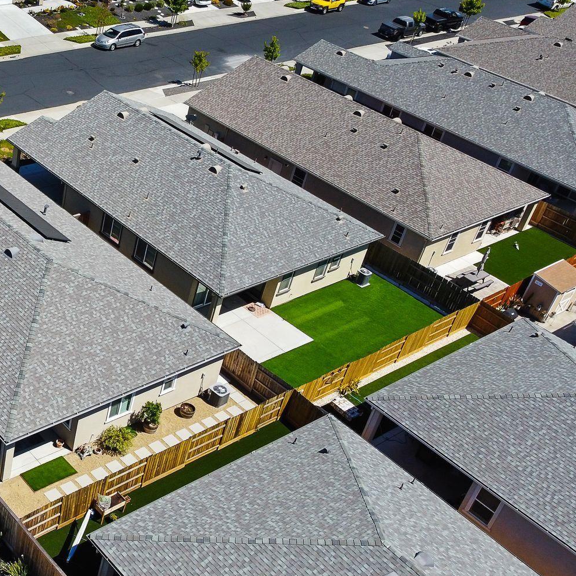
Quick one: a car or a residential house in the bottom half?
residential house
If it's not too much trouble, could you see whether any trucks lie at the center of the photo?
No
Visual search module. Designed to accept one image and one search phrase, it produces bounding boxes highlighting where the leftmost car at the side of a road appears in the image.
[94,22,148,50]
